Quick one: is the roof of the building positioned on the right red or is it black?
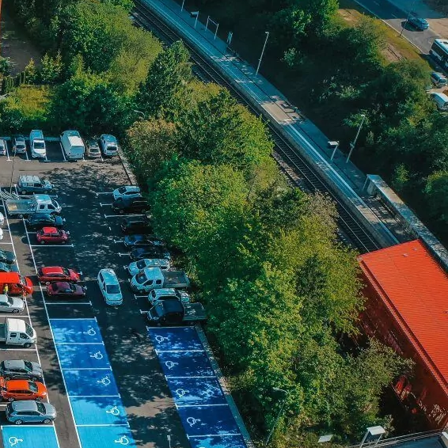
red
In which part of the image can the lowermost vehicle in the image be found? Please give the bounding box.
[3,398,57,424]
